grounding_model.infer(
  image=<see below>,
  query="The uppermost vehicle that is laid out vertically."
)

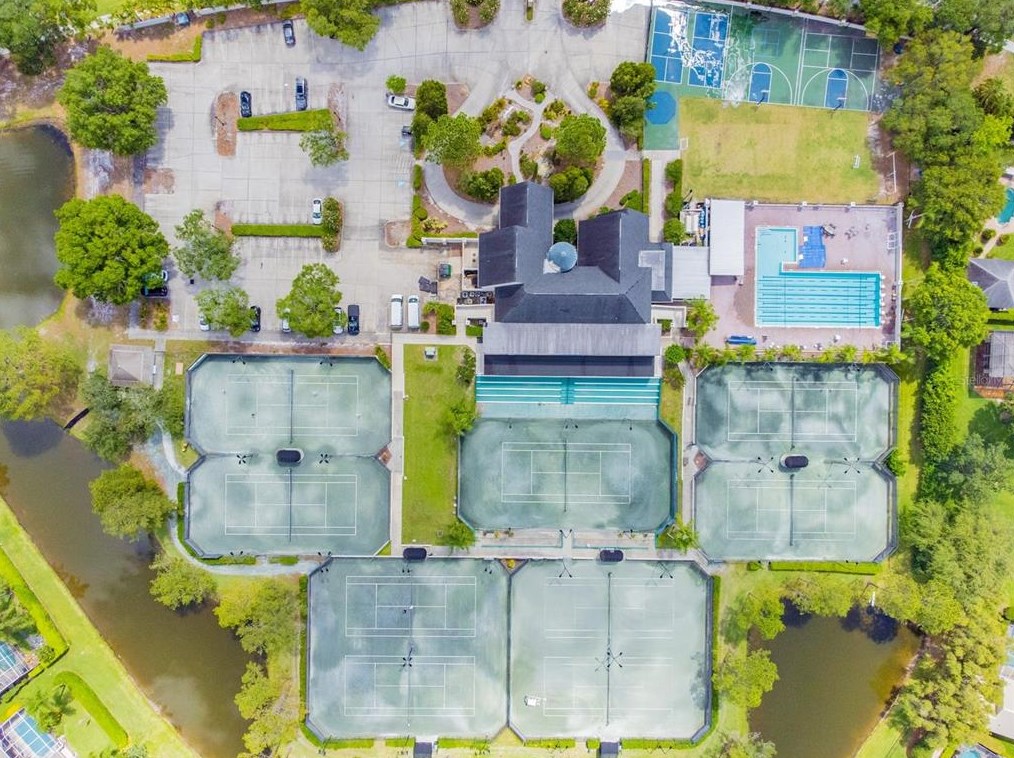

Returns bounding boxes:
[282,20,296,47]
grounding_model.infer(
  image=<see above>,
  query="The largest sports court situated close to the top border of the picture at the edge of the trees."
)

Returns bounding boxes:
[646,2,878,151]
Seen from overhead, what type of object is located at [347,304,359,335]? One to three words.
vehicle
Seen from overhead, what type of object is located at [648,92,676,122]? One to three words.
sports court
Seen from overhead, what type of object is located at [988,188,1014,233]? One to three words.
swimming pool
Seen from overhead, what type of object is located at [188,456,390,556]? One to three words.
tennis court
